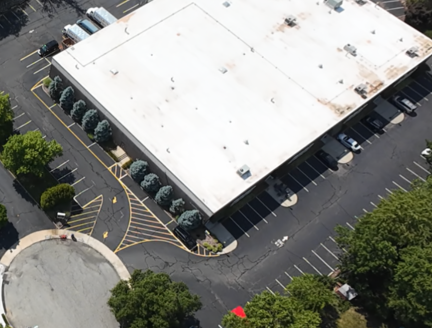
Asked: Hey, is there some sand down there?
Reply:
No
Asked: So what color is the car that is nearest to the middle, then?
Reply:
black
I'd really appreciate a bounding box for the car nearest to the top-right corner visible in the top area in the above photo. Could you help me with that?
[396,94,422,113]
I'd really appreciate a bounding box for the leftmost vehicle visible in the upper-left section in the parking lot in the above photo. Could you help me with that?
[40,38,60,54]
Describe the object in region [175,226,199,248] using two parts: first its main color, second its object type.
black car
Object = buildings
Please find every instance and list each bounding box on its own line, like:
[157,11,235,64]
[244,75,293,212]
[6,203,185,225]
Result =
[338,284,358,301]
[49,0,432,224]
